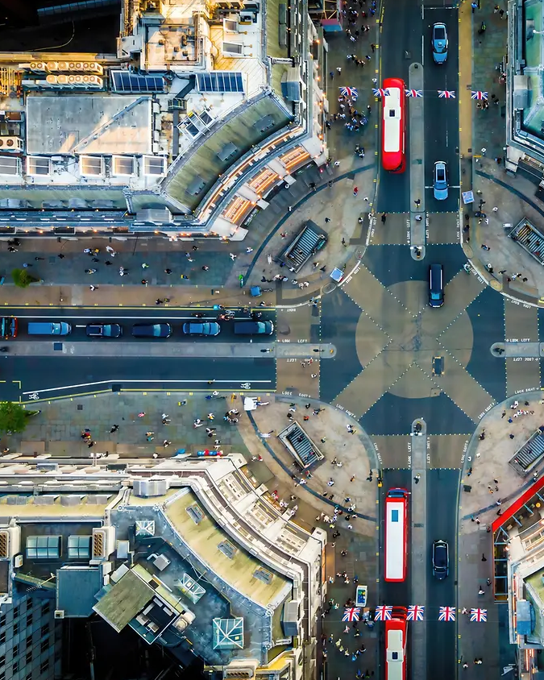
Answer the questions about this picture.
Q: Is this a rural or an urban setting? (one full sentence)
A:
The area is urban.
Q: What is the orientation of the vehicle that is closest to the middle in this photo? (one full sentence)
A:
In this picture, the vehicle that is closest to the middle is oriented from side to side.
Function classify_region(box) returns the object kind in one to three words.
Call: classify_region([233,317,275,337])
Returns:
vehicle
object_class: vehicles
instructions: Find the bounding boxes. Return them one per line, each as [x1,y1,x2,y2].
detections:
[134,320,174,340]
[182,319,222,338]
[233,317,275,337]
[431,163,450,202]
[426,265,445,306]
[382,490,408,581]
[382,608,408,680]
[430,26,447,64]
[379,78,405,174]
[27,319,72,338]
[85,322,125,340]
[0,314,22,340]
